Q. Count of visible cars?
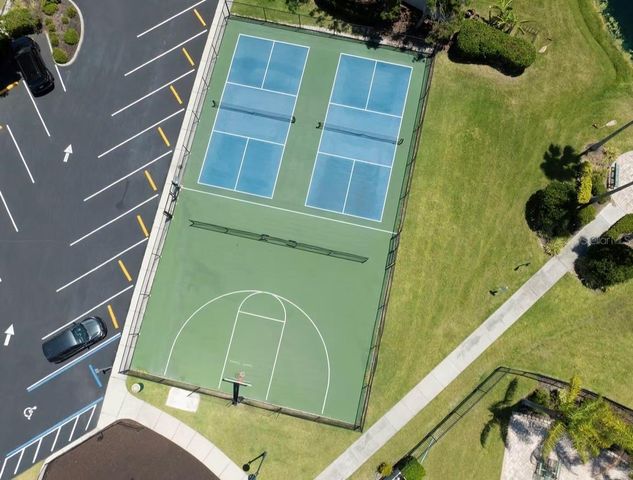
2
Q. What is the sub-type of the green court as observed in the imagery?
basketball court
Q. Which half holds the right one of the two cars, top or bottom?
bottom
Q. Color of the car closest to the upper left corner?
black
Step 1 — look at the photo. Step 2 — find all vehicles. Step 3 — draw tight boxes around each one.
[12,36,55,98]
[40,317,107,363]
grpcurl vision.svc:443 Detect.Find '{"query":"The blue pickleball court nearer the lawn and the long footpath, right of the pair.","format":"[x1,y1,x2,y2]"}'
[305,53,413,222]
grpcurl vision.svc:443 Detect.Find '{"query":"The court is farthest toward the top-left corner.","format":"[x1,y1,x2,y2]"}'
[197,33,310,199]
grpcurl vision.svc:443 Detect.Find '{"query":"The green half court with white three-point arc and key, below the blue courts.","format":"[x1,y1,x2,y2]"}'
[130,187,397,425]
